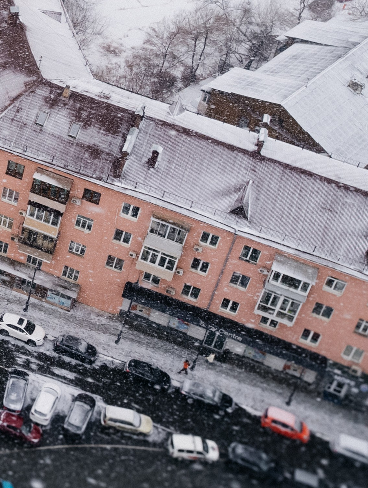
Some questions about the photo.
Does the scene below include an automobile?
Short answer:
Yes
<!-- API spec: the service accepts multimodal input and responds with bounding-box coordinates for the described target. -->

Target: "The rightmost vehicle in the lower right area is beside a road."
[320,424,368,468]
